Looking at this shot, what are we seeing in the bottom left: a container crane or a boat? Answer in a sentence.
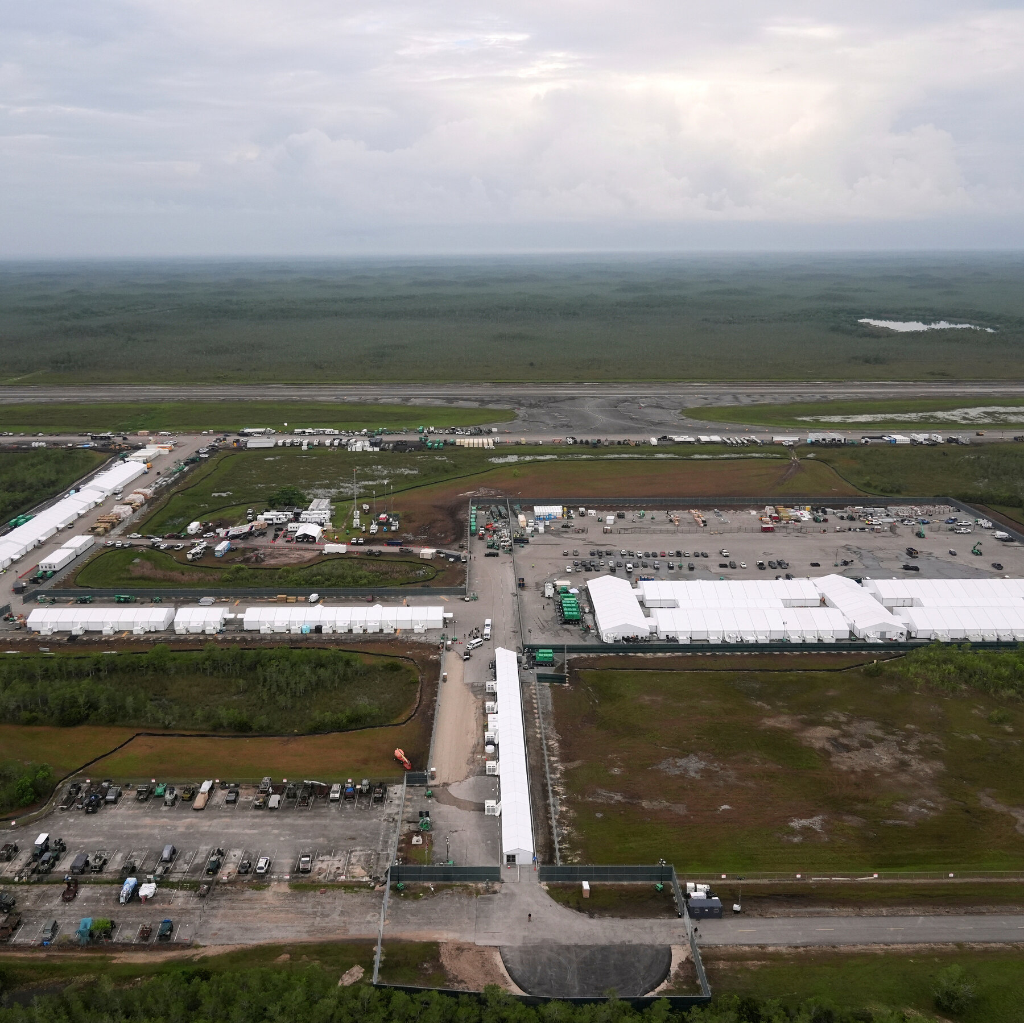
The one visible in the bottom left is a boat.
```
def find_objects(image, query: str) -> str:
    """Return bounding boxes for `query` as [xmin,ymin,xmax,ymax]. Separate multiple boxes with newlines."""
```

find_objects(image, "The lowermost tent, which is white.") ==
[494,647,533,866]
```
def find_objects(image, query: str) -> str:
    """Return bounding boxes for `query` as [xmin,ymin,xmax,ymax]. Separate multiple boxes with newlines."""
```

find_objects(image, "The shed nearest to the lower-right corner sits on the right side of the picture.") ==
[685,890,728,921]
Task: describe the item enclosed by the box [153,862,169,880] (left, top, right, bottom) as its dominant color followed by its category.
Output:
gray boat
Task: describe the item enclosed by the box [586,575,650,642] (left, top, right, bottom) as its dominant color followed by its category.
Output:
white tent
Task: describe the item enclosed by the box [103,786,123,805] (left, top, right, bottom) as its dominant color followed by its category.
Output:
gray vehicle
